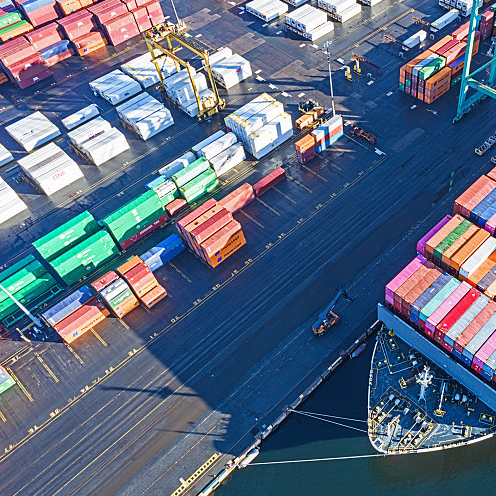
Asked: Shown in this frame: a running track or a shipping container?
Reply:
shipping container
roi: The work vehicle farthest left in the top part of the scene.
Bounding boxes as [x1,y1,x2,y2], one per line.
[297,98,312,116]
